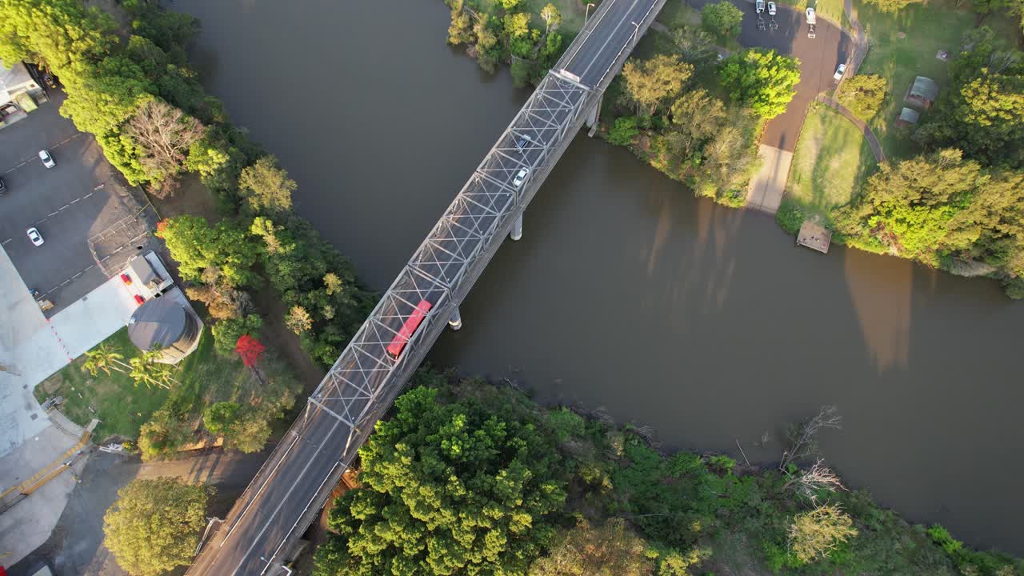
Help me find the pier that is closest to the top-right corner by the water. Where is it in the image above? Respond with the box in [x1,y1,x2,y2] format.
[794,218,833,253]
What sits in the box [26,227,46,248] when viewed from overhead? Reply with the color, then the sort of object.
white car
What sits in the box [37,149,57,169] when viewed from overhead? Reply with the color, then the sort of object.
white car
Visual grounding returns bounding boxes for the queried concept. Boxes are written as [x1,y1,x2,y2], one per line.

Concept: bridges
[178,0,667,576]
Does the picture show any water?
Yes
